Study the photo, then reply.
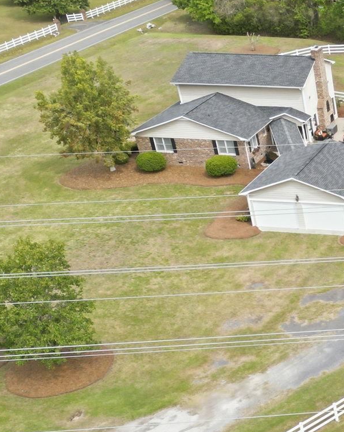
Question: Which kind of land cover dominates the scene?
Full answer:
The bulk of the photo consists of grass.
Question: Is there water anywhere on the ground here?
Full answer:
No, there's no water in this view.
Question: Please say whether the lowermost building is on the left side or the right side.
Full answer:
The lowermost building appears in the right half of the scene.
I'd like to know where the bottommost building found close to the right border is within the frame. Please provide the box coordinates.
[239,138,344,231]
